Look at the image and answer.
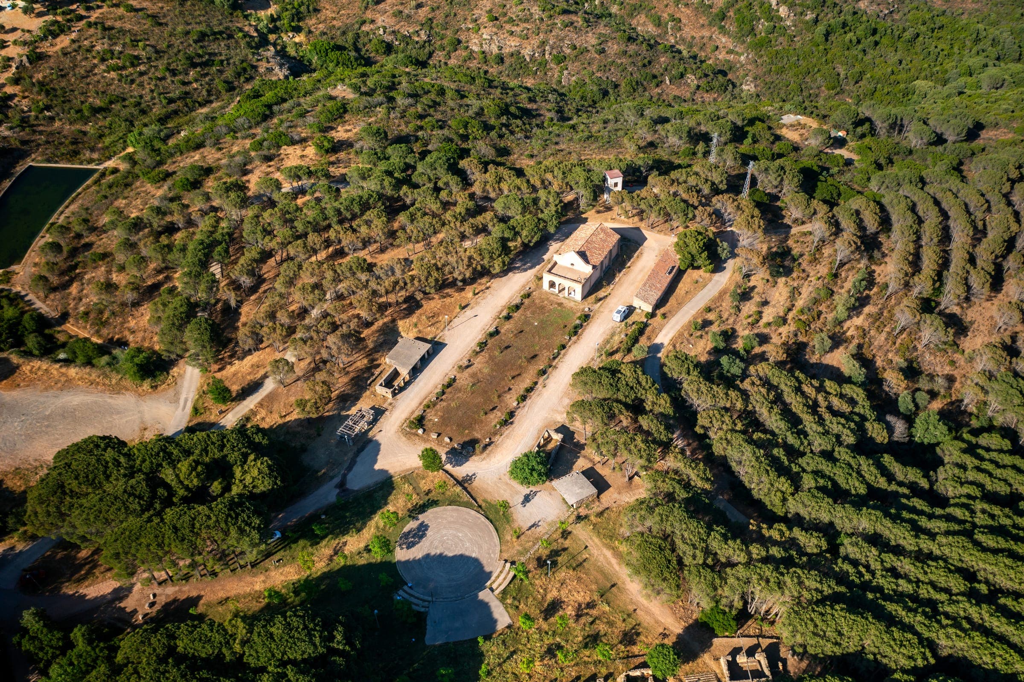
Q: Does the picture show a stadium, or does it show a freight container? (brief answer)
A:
stadium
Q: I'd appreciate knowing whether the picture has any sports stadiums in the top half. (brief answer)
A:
No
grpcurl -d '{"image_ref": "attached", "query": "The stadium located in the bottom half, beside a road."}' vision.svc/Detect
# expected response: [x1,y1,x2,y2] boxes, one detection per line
[391,505,513,645]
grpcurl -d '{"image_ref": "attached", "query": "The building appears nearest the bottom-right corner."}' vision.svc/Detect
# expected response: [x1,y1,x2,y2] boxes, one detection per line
[719,651,783,682]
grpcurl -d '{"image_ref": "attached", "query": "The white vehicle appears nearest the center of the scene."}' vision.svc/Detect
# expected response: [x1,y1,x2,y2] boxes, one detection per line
[612,302,630,322]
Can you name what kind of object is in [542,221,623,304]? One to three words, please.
building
